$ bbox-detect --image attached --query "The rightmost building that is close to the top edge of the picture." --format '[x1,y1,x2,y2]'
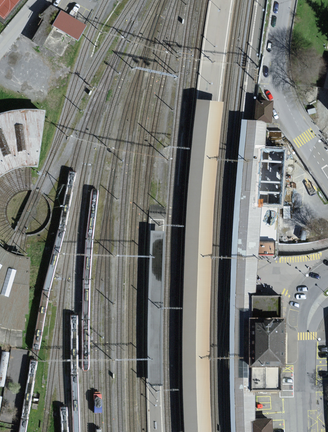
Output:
[54,11,86,40]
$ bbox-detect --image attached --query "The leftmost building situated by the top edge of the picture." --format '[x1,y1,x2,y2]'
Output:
[33,4,60,45]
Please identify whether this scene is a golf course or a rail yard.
rail yard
